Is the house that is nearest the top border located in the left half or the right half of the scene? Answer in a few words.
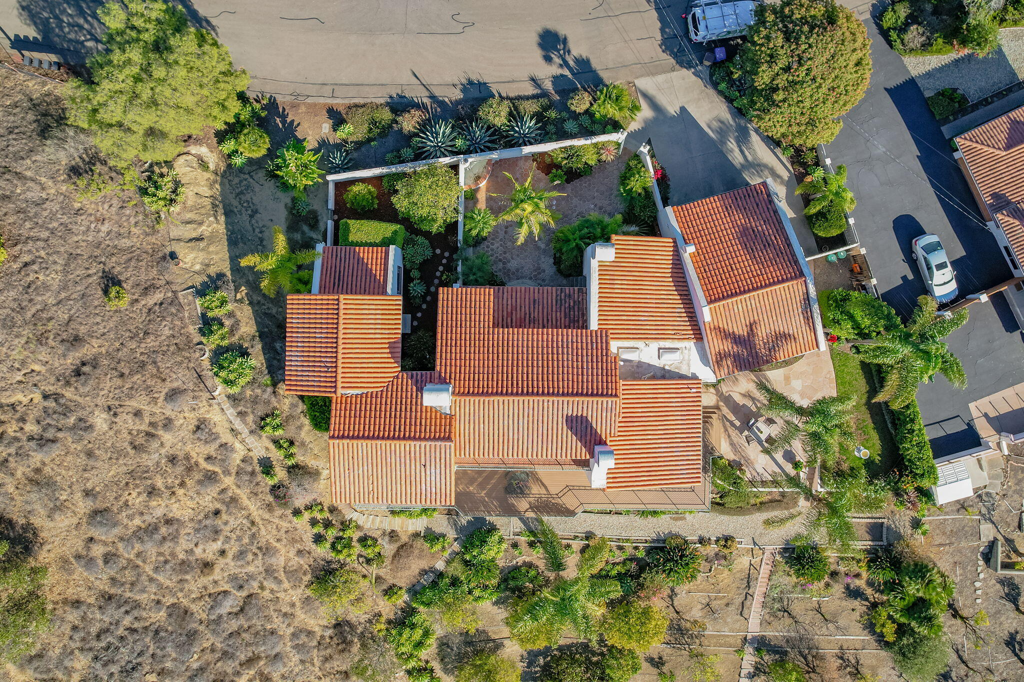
right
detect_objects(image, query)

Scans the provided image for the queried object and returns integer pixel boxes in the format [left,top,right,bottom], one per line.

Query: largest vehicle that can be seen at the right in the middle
[906,230,959,307]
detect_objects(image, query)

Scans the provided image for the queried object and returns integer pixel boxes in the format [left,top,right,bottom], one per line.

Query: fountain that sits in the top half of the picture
[465,164,491,187]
